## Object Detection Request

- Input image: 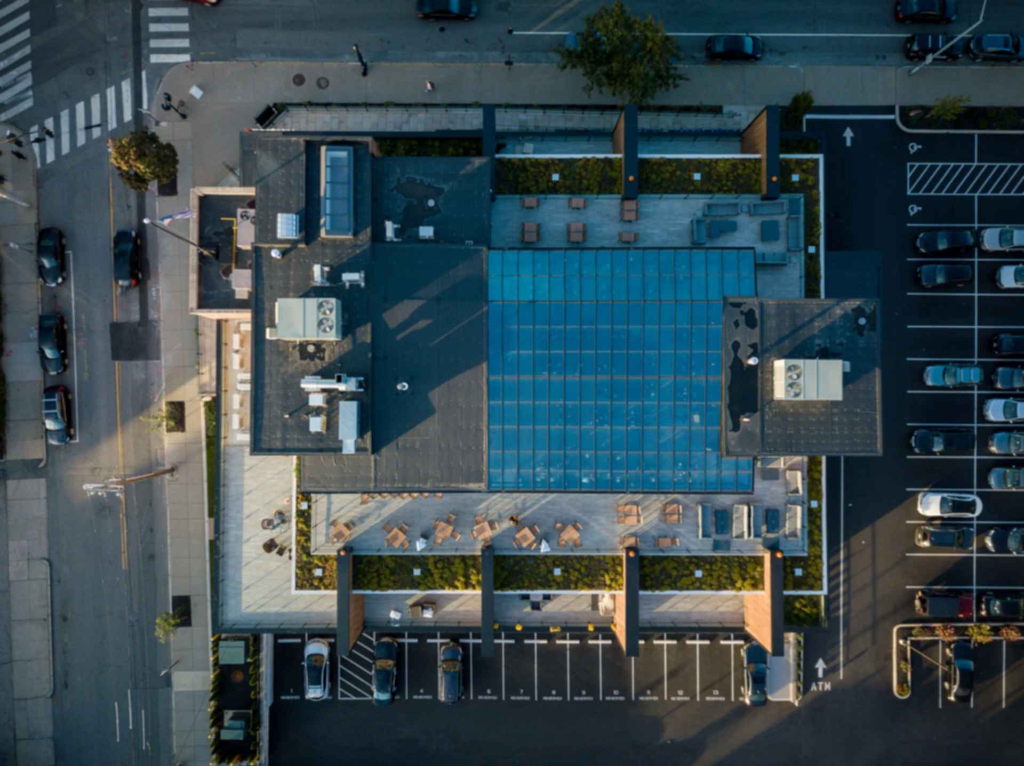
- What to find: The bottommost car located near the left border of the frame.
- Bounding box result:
[43,387,75,443]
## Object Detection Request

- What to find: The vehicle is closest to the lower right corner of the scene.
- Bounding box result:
[945,641,977,702]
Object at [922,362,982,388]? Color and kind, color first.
blue car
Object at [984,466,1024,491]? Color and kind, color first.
blue car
